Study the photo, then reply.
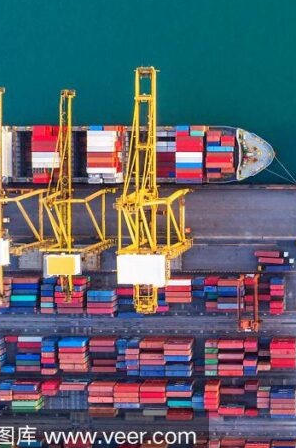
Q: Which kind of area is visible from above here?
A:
port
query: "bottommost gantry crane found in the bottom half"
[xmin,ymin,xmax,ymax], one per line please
[239,273,264,337]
